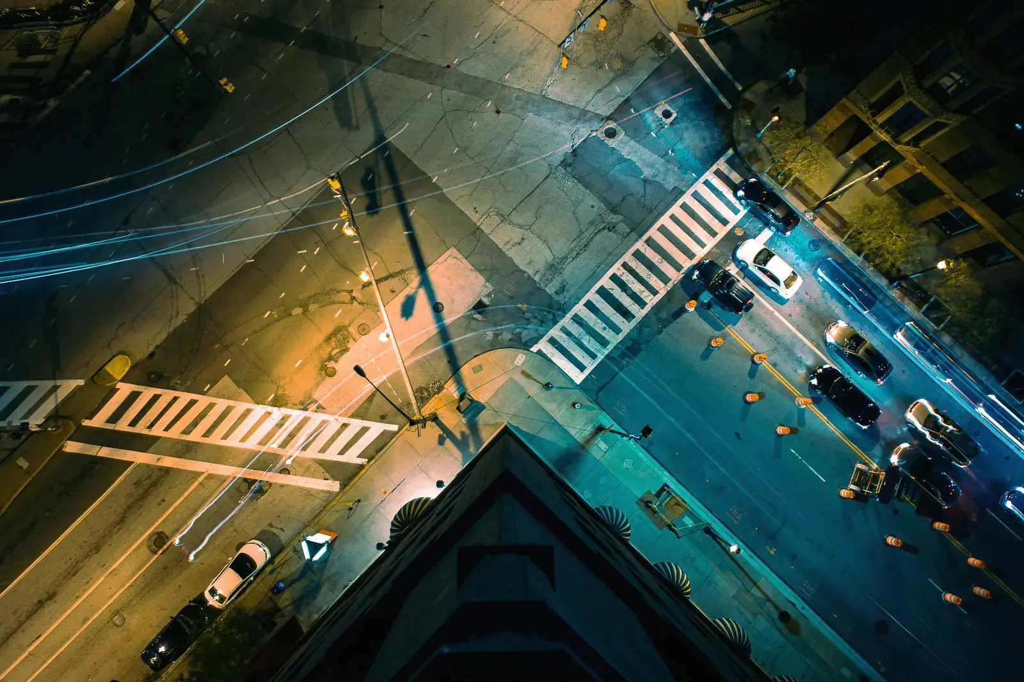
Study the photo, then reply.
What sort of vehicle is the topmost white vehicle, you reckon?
automobile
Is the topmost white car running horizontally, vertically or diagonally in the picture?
diagonally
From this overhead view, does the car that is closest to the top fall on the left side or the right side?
right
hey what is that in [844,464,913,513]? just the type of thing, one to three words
trailer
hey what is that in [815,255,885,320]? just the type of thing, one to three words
car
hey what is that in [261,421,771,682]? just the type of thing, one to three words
building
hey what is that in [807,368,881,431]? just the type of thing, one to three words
car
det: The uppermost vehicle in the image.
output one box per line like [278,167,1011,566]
[731,178,804,238]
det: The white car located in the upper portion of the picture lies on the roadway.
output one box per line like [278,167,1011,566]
[731,240,802,302]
